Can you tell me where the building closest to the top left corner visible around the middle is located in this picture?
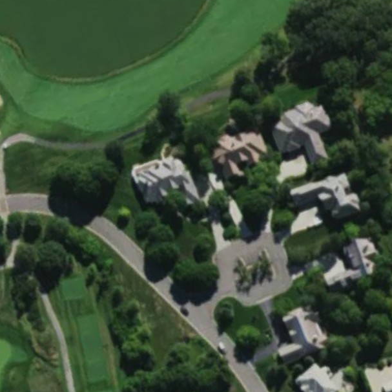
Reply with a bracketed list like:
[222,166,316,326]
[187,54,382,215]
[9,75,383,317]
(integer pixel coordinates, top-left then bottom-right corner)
[126,154,201,207]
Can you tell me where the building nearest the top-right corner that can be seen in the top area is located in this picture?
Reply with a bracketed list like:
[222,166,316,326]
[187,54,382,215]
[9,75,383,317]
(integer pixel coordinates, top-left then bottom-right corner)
[271,100,332,160]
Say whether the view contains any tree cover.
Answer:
Yes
